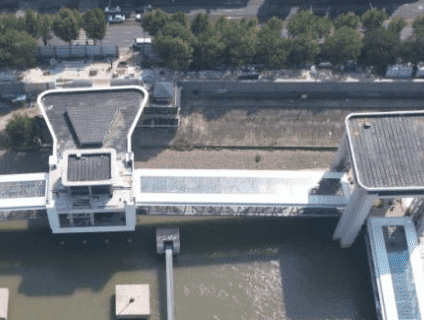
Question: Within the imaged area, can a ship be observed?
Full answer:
No, no ship is visible in the view.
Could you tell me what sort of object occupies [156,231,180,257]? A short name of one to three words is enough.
pier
